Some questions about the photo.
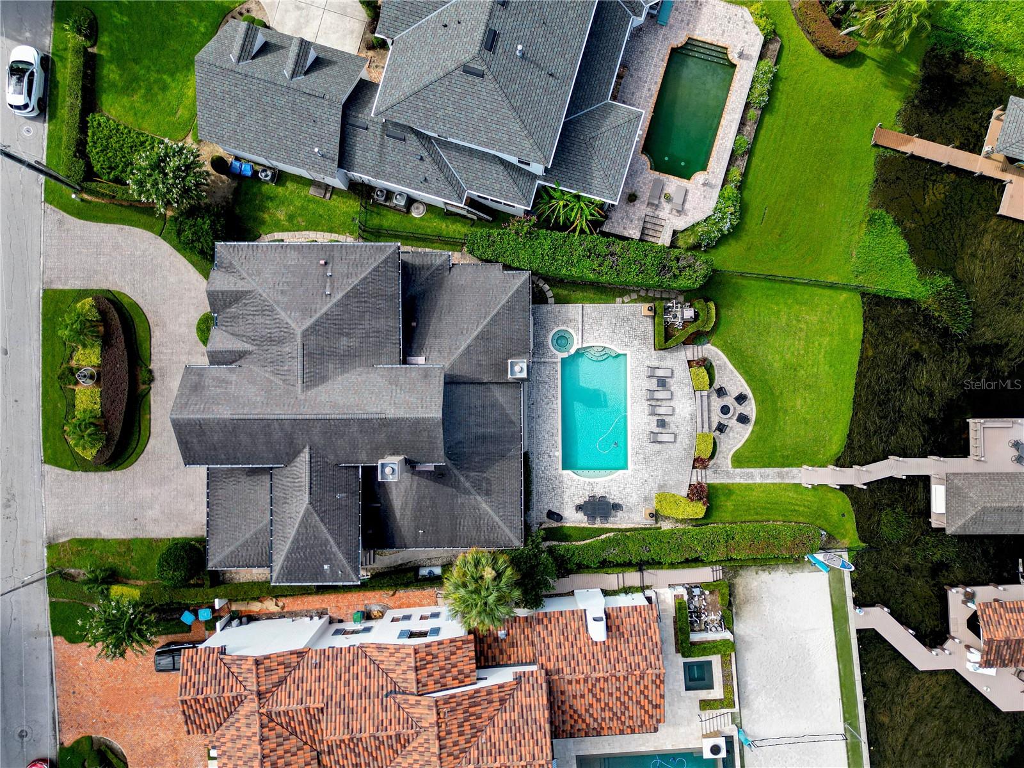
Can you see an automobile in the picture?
Yes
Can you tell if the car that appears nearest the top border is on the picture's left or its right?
left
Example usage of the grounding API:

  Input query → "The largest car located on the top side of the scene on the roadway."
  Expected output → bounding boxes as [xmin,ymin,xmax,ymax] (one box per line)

[6,48,48,117]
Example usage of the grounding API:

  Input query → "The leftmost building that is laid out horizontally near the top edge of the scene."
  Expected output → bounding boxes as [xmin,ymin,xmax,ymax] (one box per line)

[194,0,648,223]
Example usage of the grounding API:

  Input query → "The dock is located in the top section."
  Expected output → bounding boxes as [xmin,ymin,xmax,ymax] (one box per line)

[871,107,1024,222]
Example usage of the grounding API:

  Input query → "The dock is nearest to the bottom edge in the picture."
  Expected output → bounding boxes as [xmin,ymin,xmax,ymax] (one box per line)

[855,582,1024,712]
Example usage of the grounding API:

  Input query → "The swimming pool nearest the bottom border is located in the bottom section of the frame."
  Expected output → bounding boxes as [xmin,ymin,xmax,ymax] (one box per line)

[577,747,717,768]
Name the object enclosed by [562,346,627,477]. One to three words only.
swimming pool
